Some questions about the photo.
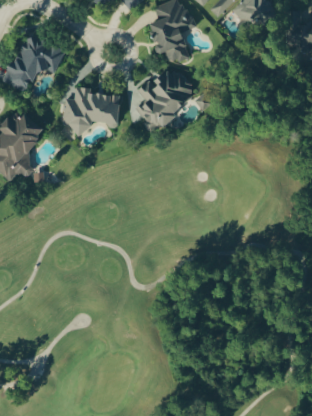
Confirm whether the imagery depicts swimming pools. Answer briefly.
Yes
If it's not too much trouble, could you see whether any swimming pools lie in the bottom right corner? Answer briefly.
No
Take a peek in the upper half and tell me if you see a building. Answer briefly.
Yes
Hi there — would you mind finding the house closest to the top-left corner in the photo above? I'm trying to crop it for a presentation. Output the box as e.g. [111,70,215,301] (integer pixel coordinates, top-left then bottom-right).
[1,37,64,87]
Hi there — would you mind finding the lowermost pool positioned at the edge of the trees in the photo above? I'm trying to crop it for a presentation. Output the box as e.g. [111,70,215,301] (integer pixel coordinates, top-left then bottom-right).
[32,138,59,168]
